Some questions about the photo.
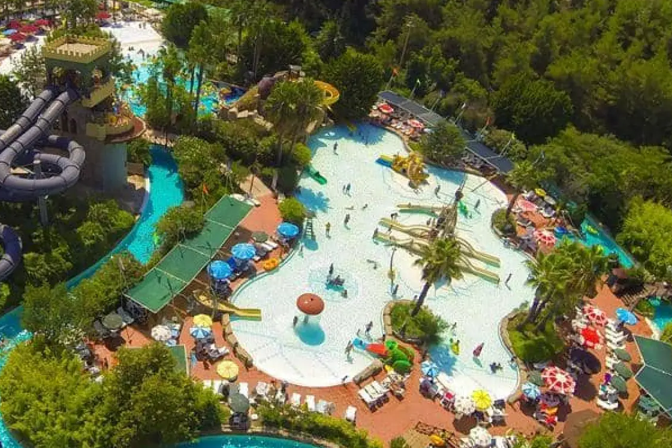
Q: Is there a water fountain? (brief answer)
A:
Yes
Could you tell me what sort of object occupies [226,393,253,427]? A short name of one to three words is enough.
umbrella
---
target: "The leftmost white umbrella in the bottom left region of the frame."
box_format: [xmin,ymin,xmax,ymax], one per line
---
[152,328,170,341]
